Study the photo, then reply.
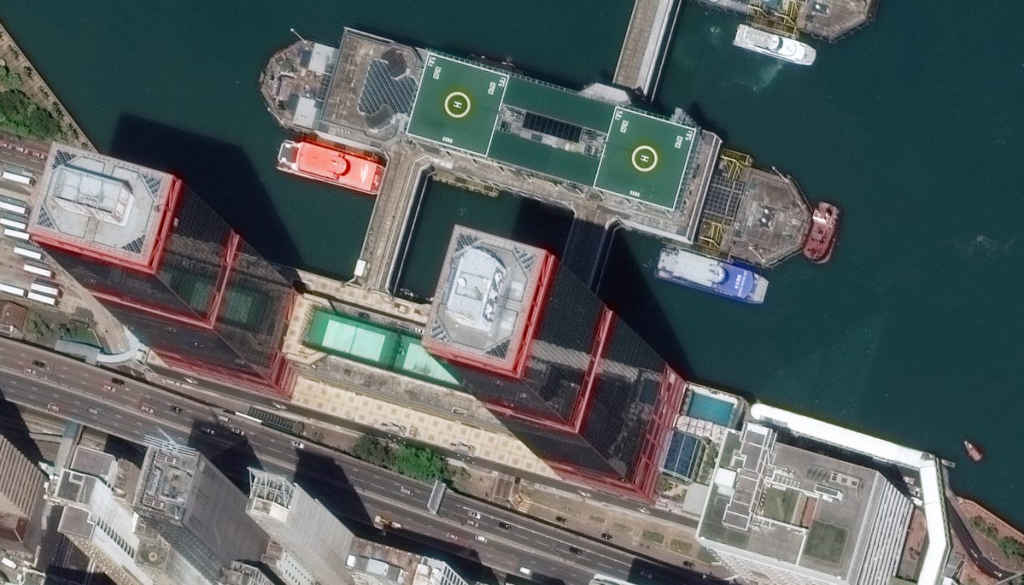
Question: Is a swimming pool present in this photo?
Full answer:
Yes, the picture does show a swimming pool.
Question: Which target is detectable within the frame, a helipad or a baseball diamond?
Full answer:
Visible in the photo is a helipad.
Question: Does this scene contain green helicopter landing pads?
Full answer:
Yes, a green helicopter landing pad appears in the view.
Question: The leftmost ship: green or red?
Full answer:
In this view, the leftmost ship is red.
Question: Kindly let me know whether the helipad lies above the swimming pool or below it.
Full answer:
It's above the swimming pool that the helipad shows up.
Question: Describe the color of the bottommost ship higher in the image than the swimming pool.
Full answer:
The color of the bottommost ship higher in the image than the swimming pool is white.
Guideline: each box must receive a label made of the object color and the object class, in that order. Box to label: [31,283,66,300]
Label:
white vehicle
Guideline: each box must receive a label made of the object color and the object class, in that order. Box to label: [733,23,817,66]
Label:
white ship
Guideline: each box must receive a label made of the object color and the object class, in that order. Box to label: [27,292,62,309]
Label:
white vehicle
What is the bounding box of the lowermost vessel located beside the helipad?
[655,248,769,305]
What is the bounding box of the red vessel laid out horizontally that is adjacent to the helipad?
[278,140,386,195]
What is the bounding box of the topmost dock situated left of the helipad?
[258,39,338,135]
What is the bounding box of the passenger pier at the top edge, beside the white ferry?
[793,0,880,47]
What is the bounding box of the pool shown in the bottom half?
[681,384,753,432]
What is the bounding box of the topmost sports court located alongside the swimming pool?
[664,431,702,481]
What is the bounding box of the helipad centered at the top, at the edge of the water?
[406,50,706,216]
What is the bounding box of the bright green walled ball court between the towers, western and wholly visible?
[302,305,400,368]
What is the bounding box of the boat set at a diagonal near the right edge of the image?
[964,440,983,462]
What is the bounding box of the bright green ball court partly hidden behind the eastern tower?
[391,329,473,391]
